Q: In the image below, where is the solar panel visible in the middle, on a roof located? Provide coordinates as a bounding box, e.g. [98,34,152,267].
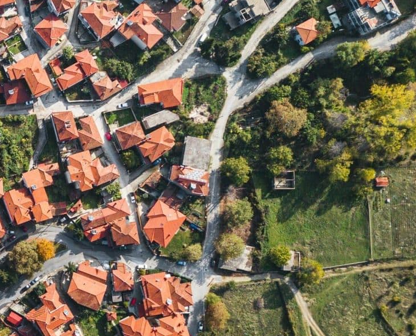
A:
[175,168,203,190]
